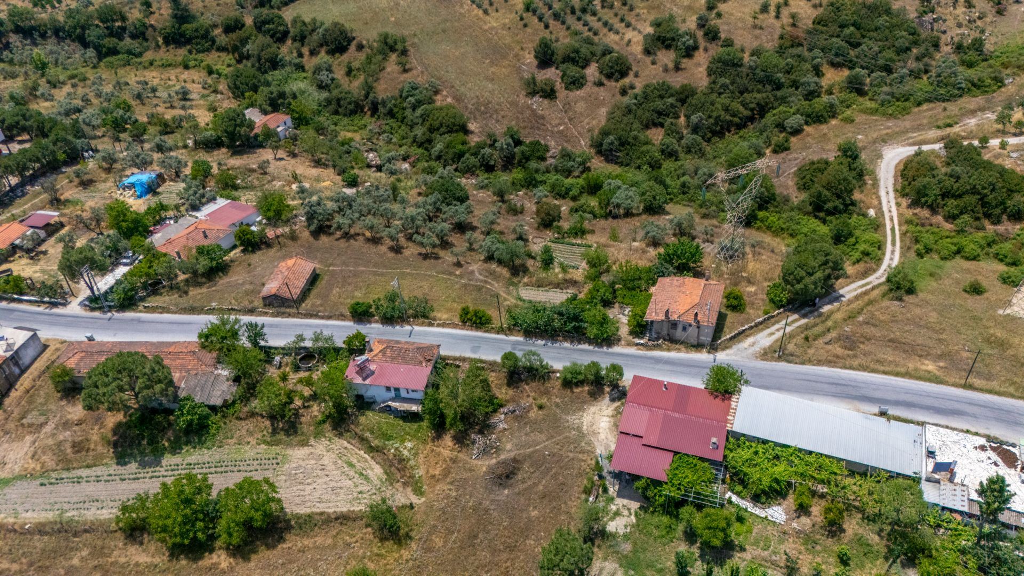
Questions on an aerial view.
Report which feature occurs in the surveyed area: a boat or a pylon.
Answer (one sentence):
The image shows a pylon.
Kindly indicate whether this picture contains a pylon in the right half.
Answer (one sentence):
Yes, I can see a pylon in the right half.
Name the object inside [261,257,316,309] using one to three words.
barn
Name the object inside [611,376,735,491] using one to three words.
house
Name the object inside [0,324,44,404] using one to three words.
house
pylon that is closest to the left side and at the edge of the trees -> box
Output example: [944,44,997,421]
[710,146,787,270]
